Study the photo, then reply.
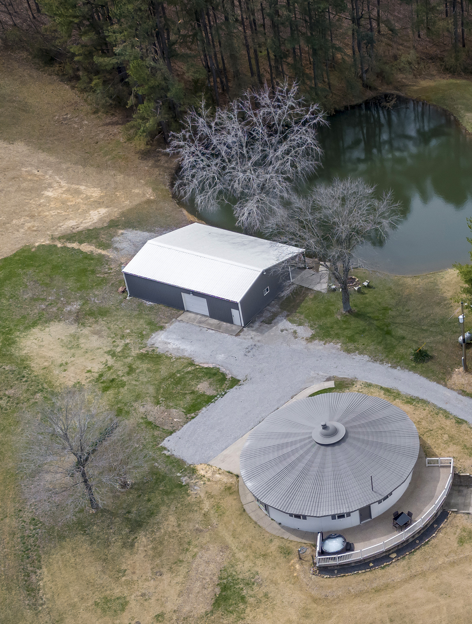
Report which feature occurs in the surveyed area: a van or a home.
home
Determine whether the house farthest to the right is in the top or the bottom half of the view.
bottom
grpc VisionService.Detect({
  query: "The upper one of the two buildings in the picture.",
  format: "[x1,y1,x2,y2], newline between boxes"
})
[119,224,306,326]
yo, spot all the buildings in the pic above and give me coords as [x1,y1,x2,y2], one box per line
[239,390,418,531]
[119,224,306,326]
